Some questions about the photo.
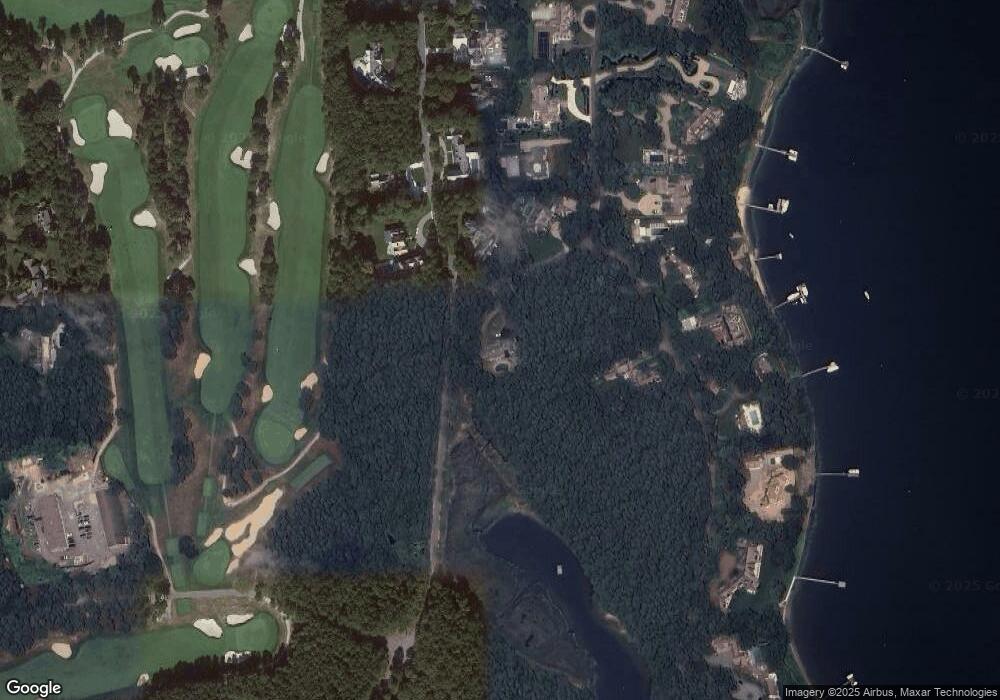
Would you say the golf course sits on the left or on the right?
left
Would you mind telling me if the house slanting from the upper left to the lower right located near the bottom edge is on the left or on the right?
right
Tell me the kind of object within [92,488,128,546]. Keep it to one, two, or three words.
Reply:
building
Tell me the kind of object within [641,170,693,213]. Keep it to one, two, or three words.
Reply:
house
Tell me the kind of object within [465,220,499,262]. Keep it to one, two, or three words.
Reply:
house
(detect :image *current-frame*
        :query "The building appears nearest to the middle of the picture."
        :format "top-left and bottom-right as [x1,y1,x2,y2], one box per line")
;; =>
[480,338,521,370]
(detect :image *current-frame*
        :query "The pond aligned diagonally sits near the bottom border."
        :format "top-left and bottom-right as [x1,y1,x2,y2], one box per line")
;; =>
[482,515,650,700]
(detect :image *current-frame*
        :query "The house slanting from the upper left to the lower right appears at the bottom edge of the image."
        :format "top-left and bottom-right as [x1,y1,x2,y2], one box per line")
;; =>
[713,634,773,679]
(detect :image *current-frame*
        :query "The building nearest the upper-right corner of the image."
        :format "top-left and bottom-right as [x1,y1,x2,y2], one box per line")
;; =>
[728,72,752,100]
